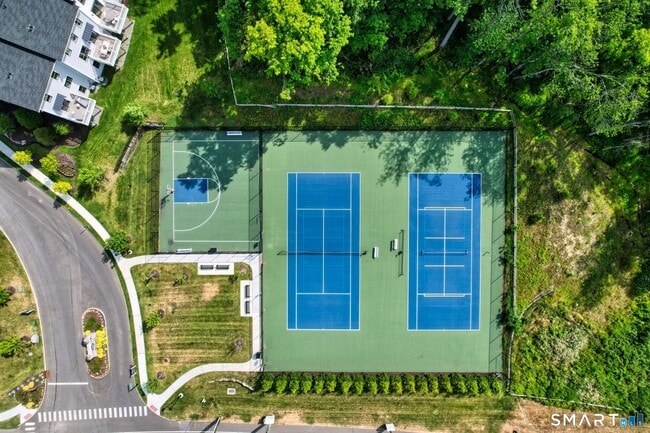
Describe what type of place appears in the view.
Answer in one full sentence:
The picture captures a sports ground.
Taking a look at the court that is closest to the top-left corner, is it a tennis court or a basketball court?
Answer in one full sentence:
I'd say the court that is closest to the top-left corner is a basketball court.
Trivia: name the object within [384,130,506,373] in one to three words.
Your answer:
tennis court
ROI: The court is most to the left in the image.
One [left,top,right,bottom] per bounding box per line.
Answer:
[160,130,262,253]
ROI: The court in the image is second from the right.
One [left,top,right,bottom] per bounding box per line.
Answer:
[262,130,384,372]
